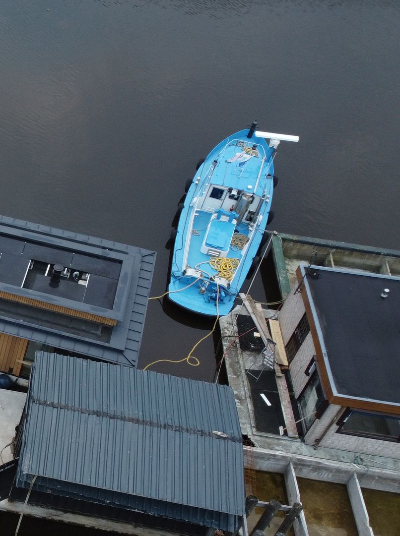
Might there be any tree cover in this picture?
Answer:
No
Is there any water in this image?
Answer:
Yes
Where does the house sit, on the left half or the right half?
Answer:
right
